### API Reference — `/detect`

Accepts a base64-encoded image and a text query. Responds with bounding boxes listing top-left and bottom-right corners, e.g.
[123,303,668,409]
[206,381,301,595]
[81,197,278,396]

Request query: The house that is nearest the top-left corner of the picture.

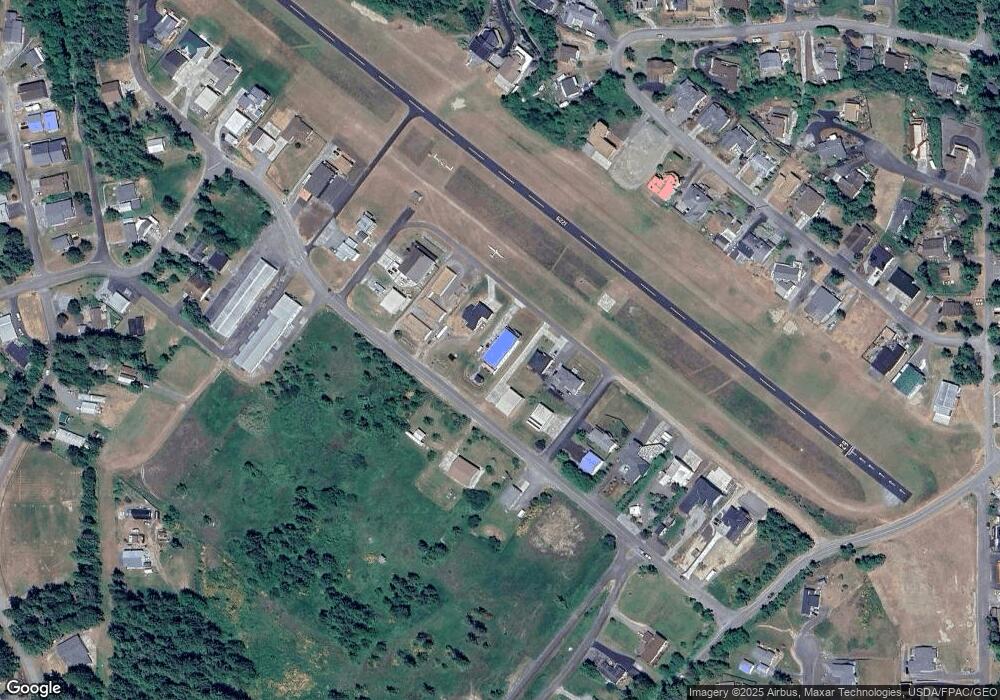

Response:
[3,10,24,45]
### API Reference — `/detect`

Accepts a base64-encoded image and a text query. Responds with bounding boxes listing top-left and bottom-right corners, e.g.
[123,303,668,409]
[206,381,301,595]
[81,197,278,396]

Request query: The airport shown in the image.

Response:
[271,0,912,542]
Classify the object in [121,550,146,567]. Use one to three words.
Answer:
building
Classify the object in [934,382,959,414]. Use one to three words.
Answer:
hangar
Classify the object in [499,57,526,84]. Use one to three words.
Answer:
house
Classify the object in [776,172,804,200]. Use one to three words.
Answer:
house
